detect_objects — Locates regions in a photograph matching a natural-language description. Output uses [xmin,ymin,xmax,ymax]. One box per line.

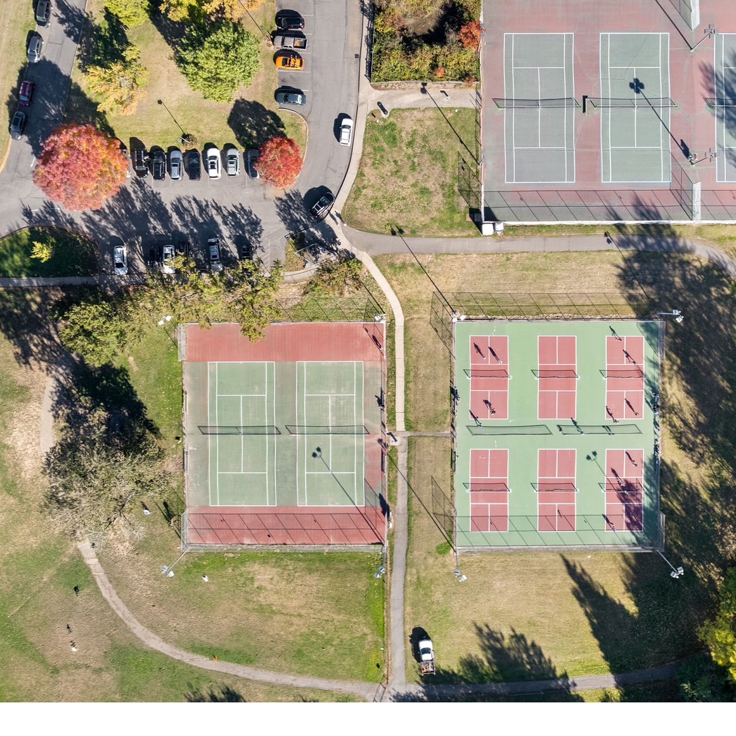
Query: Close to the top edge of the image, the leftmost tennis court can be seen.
[504,32,574,184]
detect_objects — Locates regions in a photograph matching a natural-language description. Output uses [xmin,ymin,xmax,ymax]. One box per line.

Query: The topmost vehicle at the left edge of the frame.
[36,0,54,30]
